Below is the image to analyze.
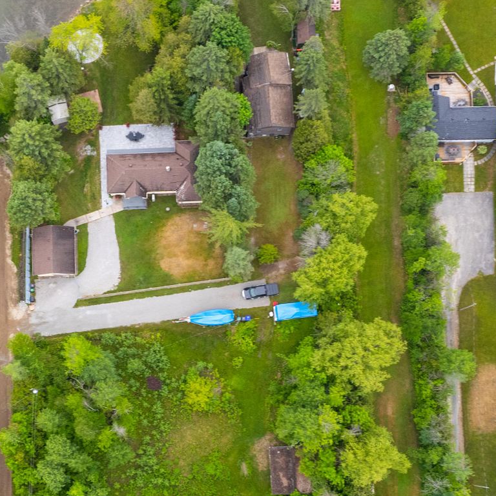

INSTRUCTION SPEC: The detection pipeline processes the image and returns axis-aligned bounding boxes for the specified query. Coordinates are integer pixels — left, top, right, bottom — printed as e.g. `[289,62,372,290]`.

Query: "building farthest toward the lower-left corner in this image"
[32,225,77,276]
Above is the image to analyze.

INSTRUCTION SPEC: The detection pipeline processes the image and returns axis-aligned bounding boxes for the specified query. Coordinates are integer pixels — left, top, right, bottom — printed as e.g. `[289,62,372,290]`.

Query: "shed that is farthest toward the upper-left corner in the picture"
[48,96,69,126]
